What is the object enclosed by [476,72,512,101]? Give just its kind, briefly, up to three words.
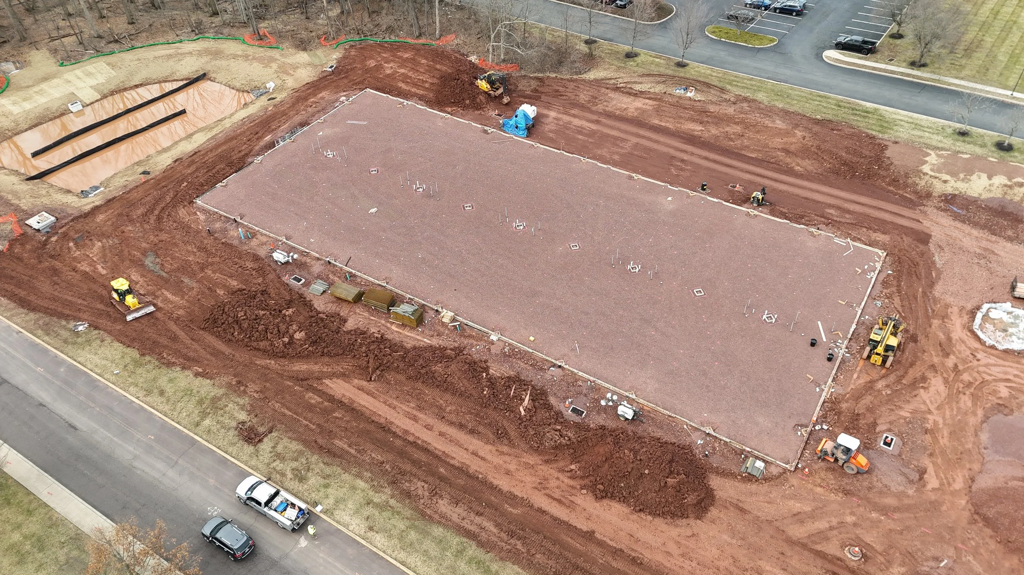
work vehicle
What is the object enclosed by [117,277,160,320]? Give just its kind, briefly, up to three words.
work vehicle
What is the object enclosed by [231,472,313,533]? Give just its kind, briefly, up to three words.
truck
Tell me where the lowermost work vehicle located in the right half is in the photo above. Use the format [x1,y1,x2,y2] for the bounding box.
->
[812,429,875,477]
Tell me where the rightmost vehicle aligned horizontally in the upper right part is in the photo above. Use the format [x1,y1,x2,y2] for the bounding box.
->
[833,34,877,53]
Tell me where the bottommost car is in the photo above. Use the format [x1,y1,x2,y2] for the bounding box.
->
[198,513,255,561]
